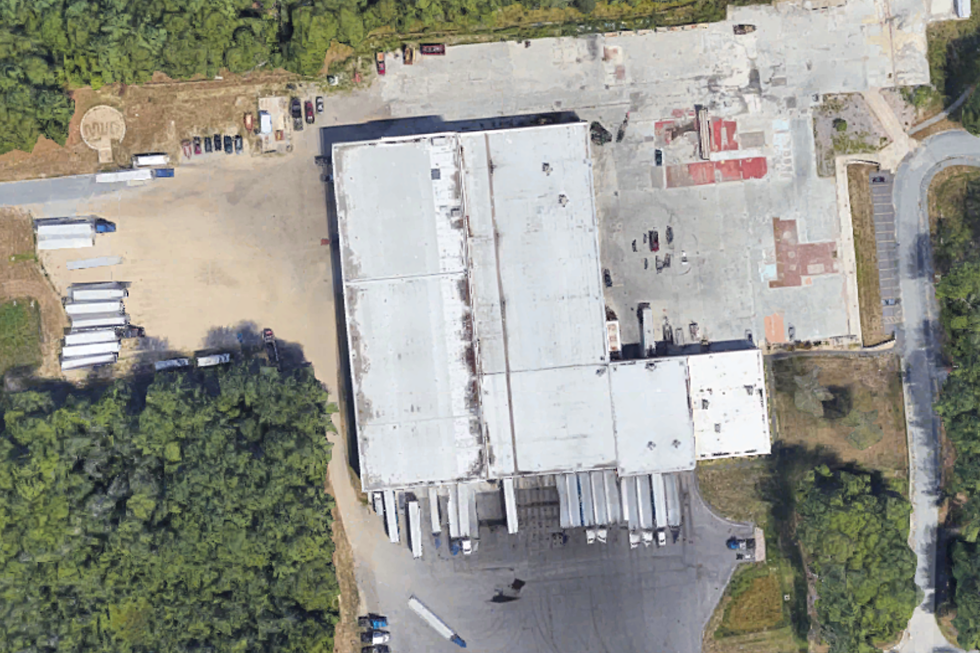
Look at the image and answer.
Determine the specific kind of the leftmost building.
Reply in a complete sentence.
The leftmost building in the image is a warehouse.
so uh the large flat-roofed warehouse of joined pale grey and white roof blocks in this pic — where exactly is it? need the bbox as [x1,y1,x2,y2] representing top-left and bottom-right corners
[333,122,771,493]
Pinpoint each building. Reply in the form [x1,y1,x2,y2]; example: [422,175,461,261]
[333,122,771,493]
[952,0,970,19]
